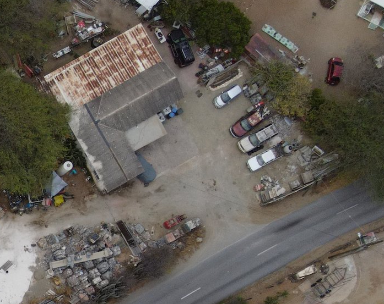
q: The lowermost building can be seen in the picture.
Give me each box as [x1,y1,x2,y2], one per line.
[42,24,184,195]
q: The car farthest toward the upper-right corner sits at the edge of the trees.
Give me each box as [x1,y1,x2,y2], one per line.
[322,56,344,88]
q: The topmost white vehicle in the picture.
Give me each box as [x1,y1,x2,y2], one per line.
[211,82,245,109]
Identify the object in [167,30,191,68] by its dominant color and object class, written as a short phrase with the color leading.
black car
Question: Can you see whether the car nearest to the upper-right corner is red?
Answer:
Yes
